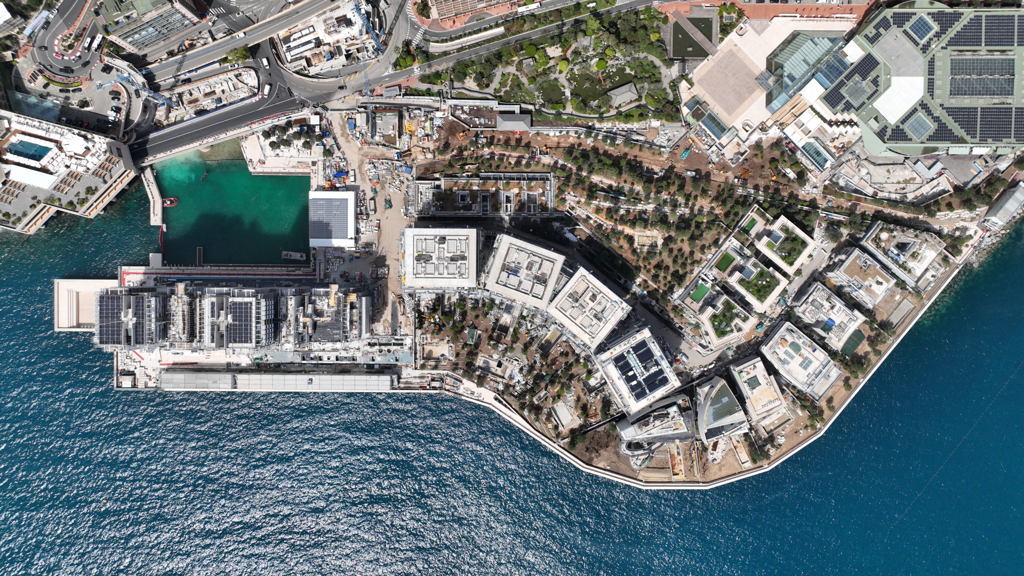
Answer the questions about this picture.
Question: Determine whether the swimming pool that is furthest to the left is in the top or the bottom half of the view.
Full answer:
Seen from above, the swimming pool that is furthest to the left lies in the top half of the view.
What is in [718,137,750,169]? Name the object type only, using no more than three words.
shed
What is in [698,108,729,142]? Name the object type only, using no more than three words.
building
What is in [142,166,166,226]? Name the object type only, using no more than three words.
pier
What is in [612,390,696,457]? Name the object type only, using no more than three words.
house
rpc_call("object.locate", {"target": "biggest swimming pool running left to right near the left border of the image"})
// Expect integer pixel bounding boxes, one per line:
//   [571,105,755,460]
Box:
[4,140,50,161]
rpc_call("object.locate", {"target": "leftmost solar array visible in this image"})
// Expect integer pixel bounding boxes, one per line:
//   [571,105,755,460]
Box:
[310,198,348,239]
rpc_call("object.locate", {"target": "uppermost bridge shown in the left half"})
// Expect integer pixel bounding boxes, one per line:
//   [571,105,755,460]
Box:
[139,0,349,83]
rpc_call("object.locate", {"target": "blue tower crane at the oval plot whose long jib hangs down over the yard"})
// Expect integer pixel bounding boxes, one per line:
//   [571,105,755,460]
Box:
[351,0,387,147]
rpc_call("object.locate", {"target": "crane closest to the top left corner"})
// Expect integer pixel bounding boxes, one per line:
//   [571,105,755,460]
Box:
[91,32,251,106]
